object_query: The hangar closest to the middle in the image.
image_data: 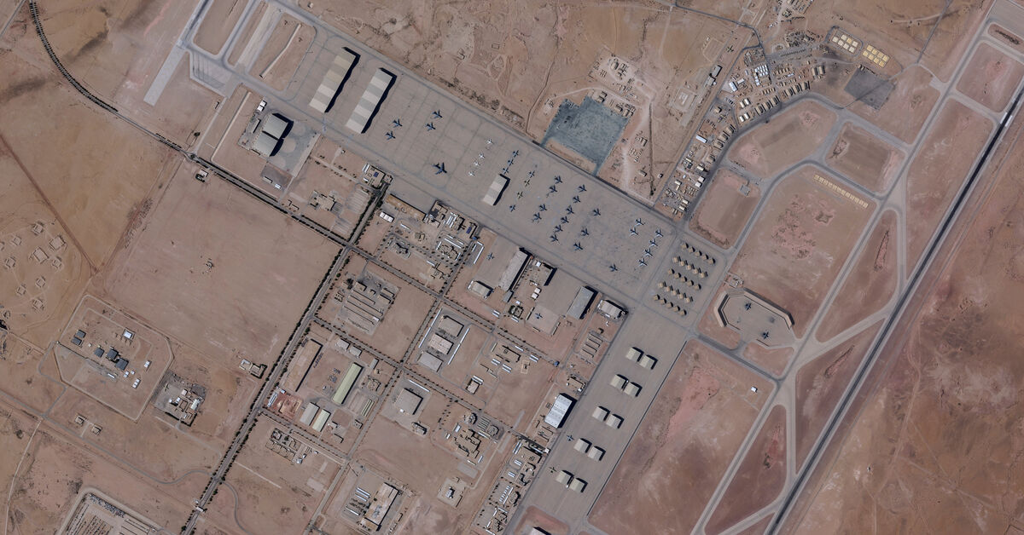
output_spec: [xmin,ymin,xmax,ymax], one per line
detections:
[499,250,528,290]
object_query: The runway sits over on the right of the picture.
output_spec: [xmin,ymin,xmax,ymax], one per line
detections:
[762,77,1024,535]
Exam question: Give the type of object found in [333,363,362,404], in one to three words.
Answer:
building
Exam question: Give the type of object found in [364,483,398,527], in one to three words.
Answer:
building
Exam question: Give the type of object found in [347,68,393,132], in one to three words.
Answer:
hangar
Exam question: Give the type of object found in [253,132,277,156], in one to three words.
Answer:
hangar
